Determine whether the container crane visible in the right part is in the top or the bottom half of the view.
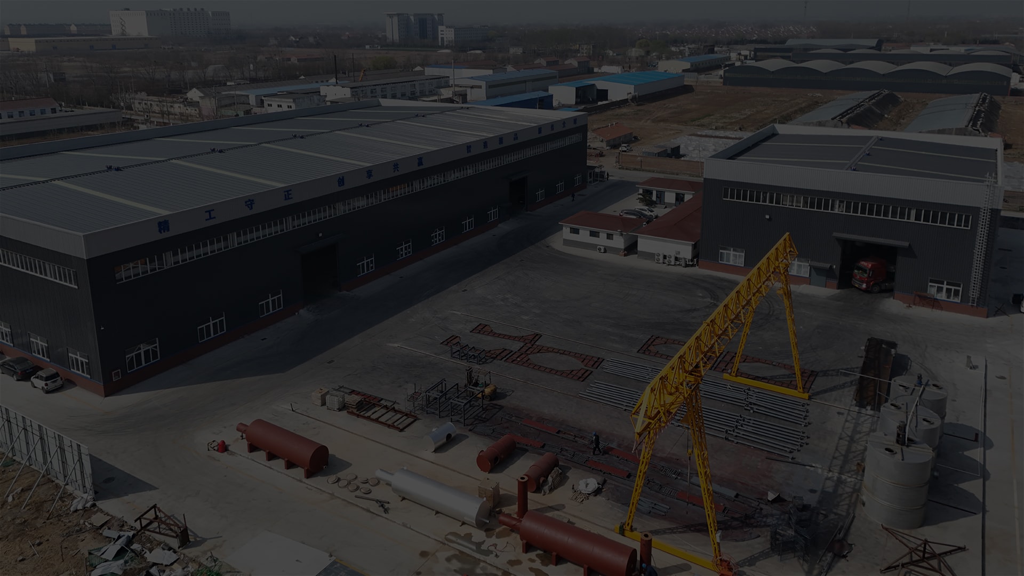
bottom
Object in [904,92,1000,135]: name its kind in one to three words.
greenhouse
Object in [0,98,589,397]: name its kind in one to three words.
building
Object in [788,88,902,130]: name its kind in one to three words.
greenhouse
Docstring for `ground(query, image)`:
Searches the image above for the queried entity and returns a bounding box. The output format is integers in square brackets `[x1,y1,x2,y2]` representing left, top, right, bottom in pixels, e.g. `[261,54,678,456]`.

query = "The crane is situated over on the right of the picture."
[616,224,813,576]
